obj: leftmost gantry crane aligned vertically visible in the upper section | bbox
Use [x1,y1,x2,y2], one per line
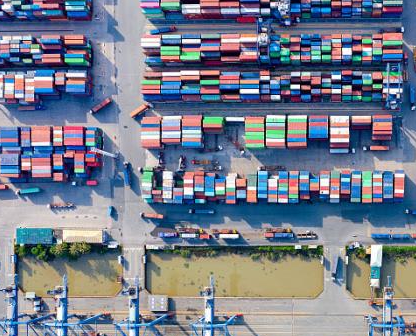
[254,22,276,74]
